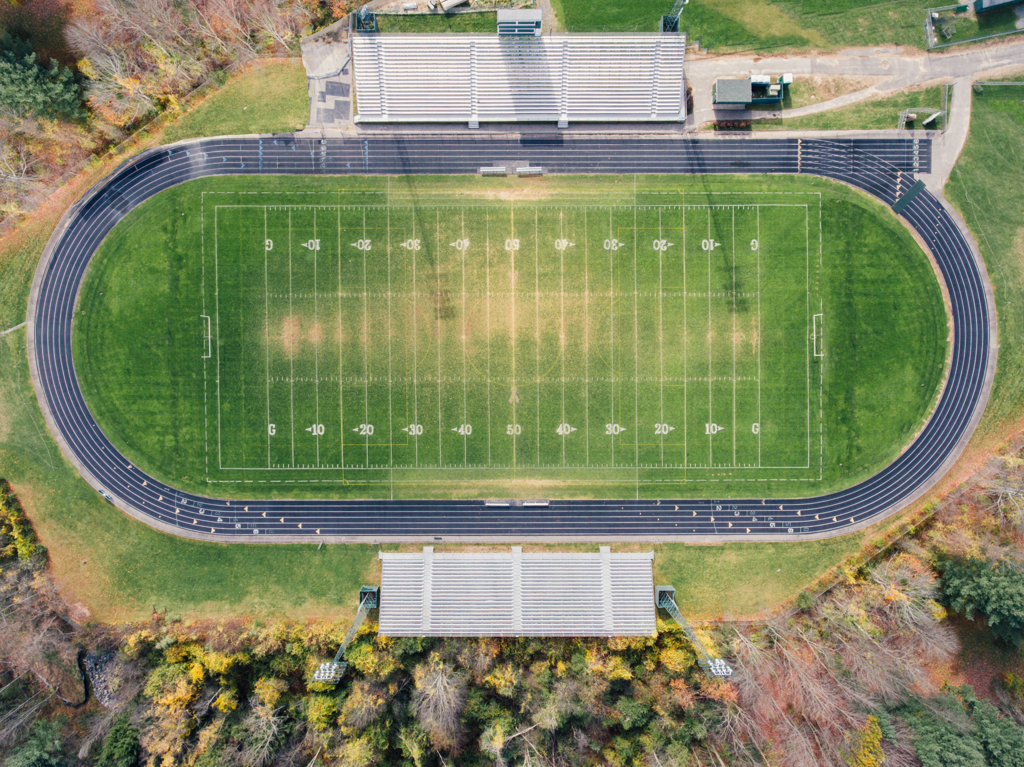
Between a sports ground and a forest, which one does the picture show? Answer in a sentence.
The picture captures a sports ground.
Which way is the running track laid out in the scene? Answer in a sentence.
The running track has been laid out horizontally relative to the frame.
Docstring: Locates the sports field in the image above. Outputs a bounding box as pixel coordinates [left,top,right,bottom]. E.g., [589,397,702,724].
[71,174,954,500]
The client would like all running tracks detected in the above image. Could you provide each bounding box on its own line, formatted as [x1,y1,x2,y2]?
[35,138,990,536]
